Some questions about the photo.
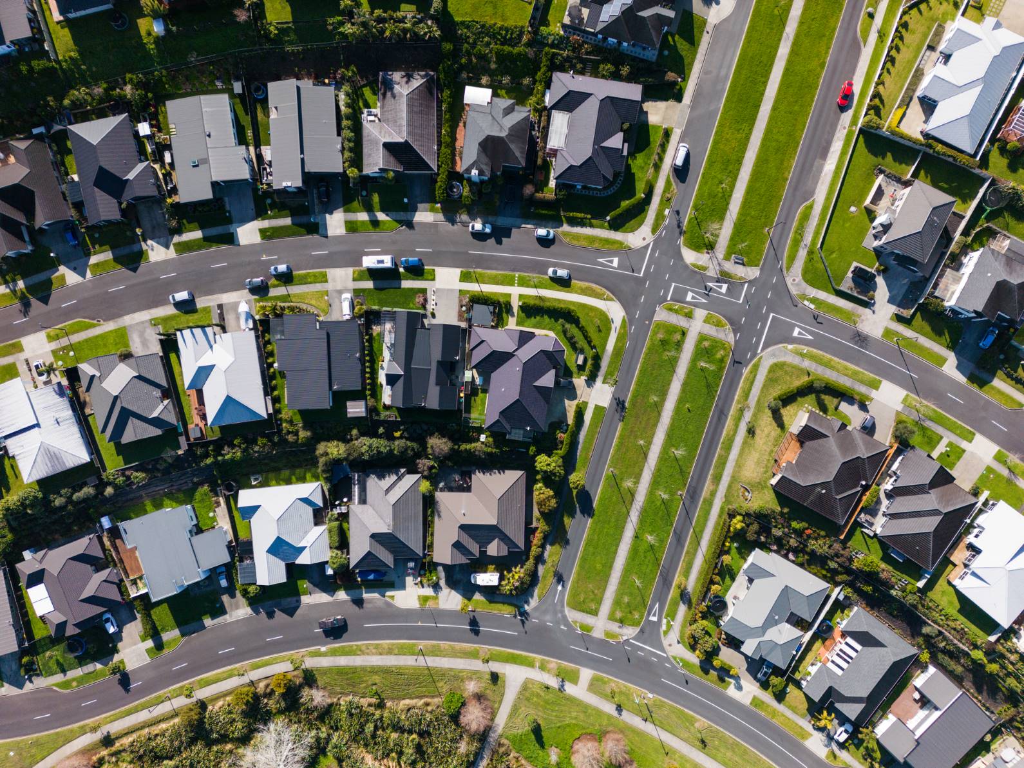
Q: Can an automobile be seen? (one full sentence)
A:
Yes, the picture does show an automobile.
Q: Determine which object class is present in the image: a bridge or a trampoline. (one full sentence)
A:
There is a trampoline in the scene.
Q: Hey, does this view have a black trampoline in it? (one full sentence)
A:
Yes, I can see a black trampoline in this picture.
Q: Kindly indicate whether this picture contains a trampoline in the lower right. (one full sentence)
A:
Yes, a trampoline shows up in the lower right.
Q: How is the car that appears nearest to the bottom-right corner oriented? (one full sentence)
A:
From this overhead view, the car that appears nearest to the bottom-right corner appears to run diagonally.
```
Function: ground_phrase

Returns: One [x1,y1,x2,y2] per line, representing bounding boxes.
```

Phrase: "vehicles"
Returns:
[102,610,119,636]
[216,565,231,589]
[471,571,499,586]
[554,376,578,388]
[268,263,293,275]
[533,229,555,240]
[857,409,875,434]
[546,268,571,279]
[399,256,423,268]
[468,224,492,234]
[756,660,773,685]
[850,264,876,281]
[341,294,353,318]
[832,717,854,745]
[363,255,396,269]
[317,615,347,631]
[835,82,854,107]
[171,292,194,304]
[244,277,268,290]
[32,358,49,382]
[672,143,688,170]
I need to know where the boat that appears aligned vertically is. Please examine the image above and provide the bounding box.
[238,299,253,331]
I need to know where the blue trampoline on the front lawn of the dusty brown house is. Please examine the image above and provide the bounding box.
[60,637,86,659]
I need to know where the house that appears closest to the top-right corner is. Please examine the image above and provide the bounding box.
[914,15,1024,154]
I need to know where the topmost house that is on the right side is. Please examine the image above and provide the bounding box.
[562,0,676,57]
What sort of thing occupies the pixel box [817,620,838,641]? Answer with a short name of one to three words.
trampoline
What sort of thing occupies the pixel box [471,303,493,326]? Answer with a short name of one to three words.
shed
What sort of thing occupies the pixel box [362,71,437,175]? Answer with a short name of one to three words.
house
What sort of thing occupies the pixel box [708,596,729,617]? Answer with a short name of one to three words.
trampoline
